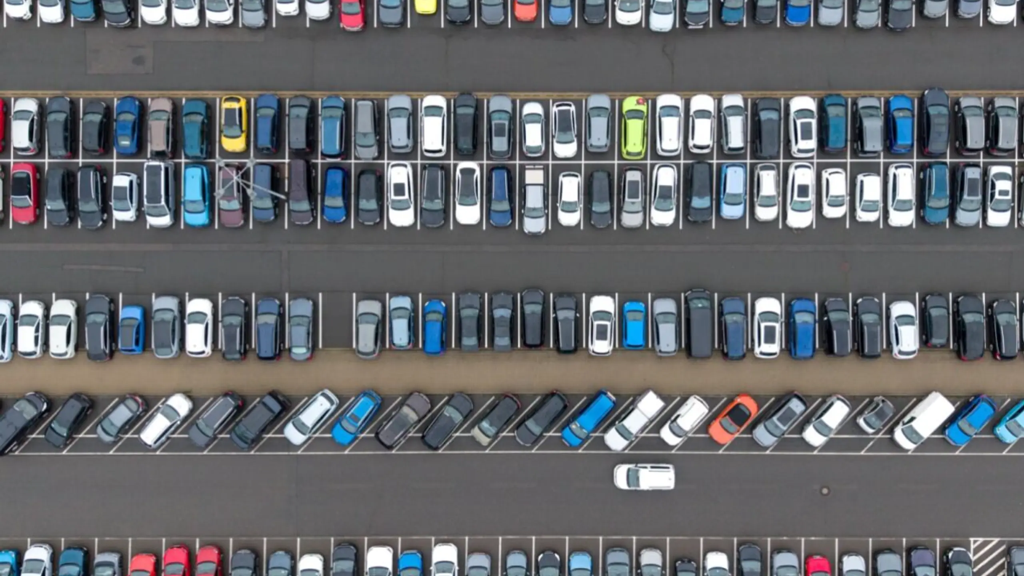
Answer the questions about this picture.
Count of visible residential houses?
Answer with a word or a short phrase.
0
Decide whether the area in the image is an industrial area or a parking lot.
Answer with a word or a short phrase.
parking lot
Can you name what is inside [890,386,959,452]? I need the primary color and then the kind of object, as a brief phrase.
white van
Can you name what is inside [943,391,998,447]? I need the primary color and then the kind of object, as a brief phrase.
blue car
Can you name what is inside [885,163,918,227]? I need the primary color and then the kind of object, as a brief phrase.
white car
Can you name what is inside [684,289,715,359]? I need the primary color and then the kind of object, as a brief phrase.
gray van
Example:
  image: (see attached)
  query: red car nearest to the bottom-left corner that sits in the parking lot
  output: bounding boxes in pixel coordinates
[127,553,158,576]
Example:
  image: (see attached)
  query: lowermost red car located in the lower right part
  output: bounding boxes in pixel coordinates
[803,555,831,576]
